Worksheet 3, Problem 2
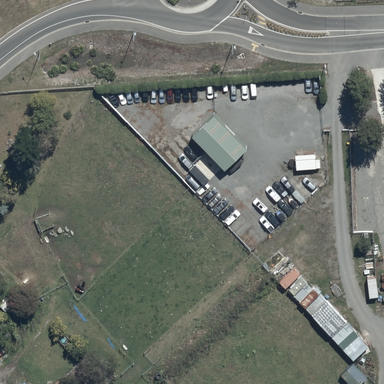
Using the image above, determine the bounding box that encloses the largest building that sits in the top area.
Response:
[192,111,248,174]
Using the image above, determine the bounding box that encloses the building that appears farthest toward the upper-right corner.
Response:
[294,149,320,170]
